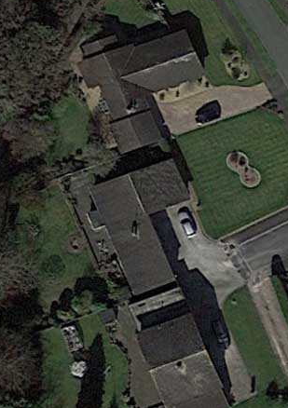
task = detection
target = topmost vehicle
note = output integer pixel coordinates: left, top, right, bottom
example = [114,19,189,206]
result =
[195,102,223,121]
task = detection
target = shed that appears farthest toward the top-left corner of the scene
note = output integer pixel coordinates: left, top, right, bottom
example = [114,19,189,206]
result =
[81,33,119,56]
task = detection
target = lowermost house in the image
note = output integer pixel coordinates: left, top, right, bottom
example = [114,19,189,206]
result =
[136,313,230,408]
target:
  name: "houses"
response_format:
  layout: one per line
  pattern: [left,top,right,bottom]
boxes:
[78,28,203,155]
[136,313,230,408]
[91,159,191,296]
